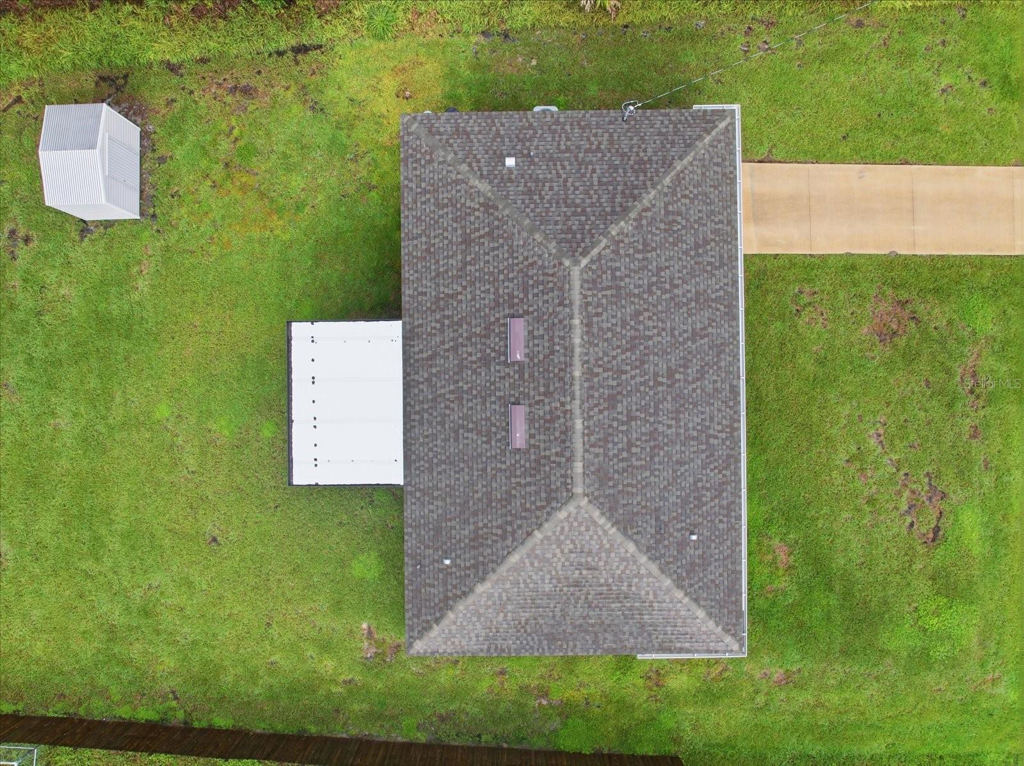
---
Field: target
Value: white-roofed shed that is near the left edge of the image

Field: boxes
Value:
[37,102,140,221]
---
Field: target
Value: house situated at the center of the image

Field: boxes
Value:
[401,102,748,659]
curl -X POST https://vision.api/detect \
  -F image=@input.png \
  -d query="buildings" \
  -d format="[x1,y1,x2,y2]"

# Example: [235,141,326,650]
[37,102,140,221]
[401,102,748,659]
